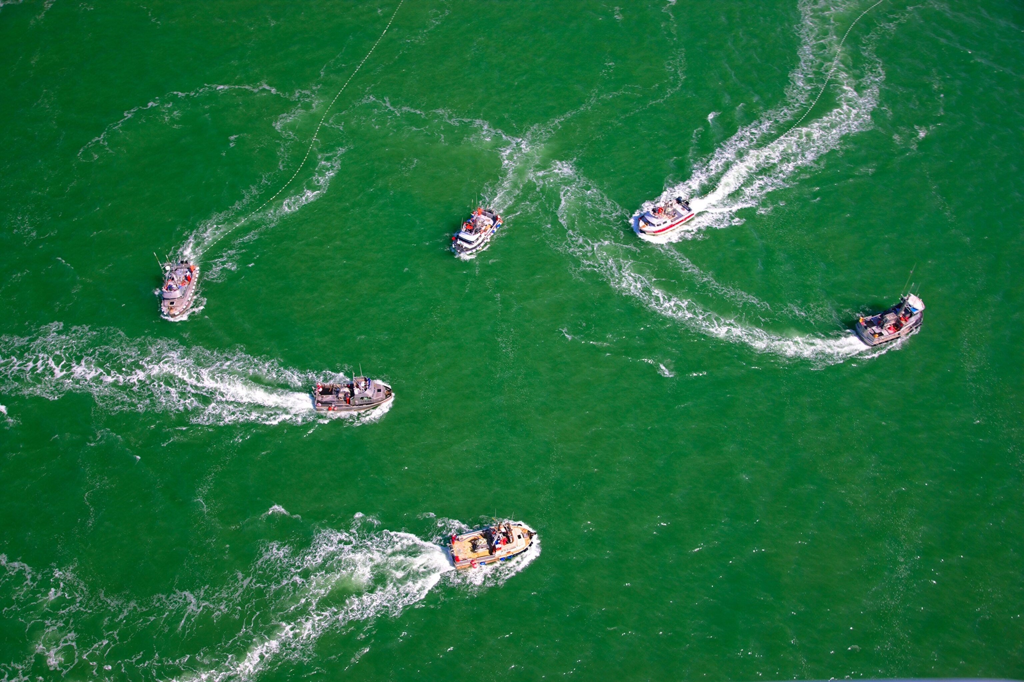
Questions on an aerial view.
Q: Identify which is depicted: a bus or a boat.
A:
boat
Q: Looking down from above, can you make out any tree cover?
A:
No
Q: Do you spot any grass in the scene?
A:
No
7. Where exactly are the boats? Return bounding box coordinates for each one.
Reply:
[455,199,502,255]
[311,364,391,411]
[854,272,925,346]
[448,516,539,568]
[638,191,693,235]
[156,253,200,318]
